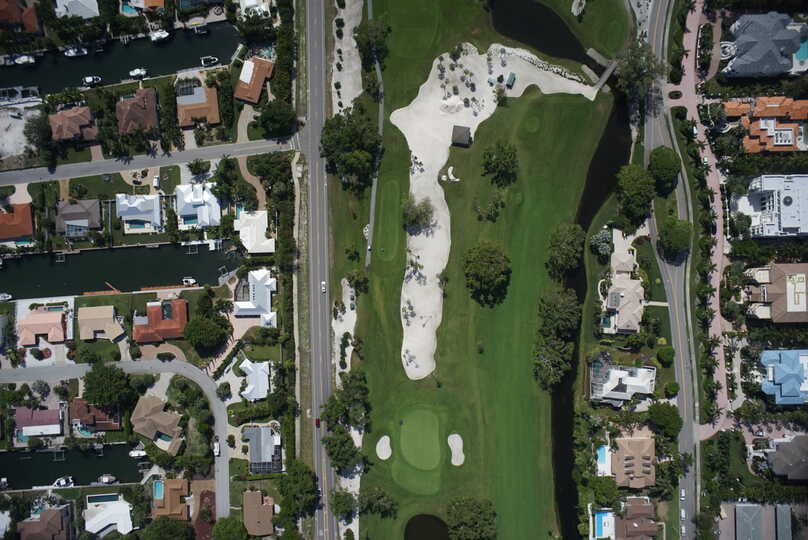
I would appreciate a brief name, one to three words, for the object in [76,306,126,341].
house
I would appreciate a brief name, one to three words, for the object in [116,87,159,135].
house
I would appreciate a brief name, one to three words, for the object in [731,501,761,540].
building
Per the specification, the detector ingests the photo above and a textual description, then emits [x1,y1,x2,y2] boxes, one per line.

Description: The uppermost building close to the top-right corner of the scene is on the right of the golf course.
[720,10,801,77]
